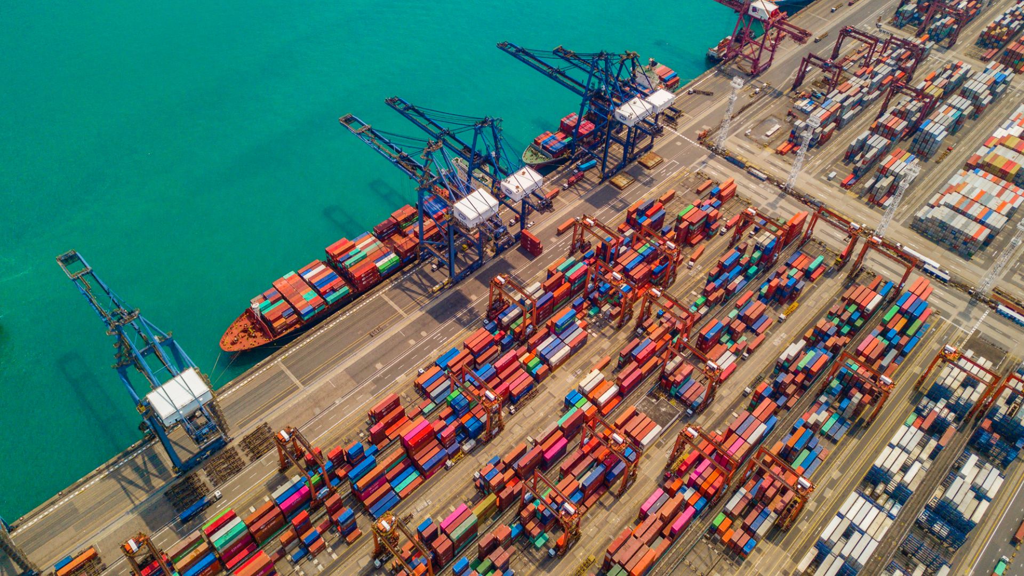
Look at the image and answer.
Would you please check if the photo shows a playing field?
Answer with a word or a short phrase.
No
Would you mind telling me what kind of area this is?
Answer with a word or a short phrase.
port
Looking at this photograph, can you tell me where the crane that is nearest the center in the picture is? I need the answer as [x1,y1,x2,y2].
[487,273,540,343]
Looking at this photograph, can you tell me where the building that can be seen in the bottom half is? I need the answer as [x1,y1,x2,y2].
[634,395,681,434]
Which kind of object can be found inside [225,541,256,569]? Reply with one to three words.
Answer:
shipping container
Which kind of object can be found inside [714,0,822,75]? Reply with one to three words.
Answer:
container crane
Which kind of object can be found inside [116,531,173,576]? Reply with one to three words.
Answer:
crane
